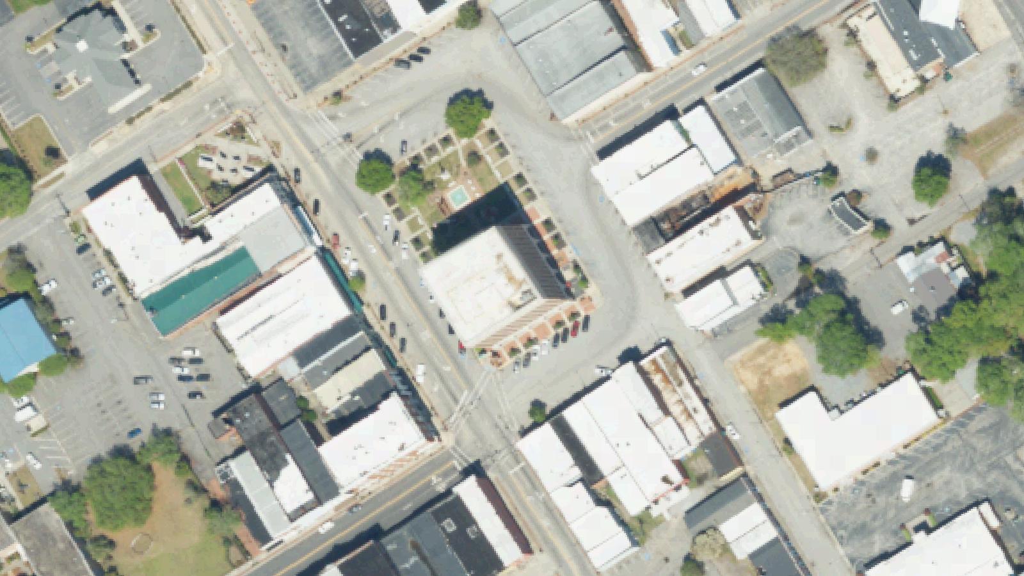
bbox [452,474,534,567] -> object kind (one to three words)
building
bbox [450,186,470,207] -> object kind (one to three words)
fountain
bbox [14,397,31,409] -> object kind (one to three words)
vehicle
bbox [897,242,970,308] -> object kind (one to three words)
house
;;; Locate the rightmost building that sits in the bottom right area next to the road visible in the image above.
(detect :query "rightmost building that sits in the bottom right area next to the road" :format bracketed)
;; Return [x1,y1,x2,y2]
[864,501,1024,576]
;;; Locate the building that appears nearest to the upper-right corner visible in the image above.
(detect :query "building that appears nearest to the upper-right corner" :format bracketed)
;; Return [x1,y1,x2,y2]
[964,0,1015,53]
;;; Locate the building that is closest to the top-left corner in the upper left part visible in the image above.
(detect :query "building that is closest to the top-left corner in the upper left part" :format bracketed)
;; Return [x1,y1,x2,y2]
[53,9,137,105]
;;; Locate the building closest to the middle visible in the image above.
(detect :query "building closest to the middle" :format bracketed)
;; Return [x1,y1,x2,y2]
[421,214,580,359]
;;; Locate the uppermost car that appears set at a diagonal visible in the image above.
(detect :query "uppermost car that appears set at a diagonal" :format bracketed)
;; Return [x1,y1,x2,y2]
[691,63,707,75]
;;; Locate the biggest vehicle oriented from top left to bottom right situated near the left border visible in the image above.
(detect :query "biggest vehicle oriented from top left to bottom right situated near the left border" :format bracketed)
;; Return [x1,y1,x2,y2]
[25,451,41,469]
